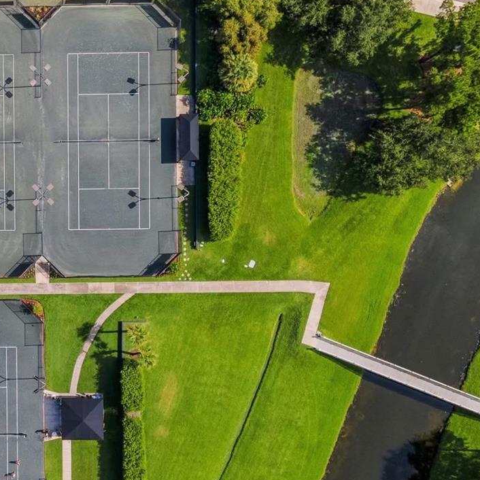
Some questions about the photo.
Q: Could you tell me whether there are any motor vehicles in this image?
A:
No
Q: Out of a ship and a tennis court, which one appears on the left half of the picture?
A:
tennis court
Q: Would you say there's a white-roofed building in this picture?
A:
No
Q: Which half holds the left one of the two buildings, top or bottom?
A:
bottom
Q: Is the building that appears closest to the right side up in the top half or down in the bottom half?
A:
top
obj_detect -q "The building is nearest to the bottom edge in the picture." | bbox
[62,394,103,440]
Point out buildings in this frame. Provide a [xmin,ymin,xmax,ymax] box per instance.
[62,394,103,440]
[174,114,200,161]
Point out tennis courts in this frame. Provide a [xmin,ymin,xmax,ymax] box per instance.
[0,298,46,480]
[0,5,42,278]
[41,3,179,277]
